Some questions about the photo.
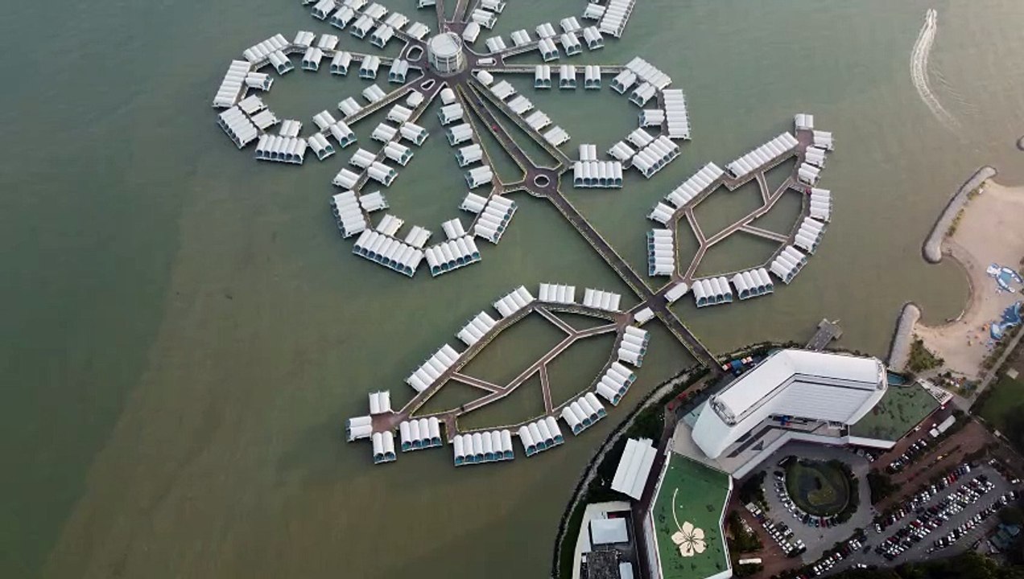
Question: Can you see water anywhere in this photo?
Yes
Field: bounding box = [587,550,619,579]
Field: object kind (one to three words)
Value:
building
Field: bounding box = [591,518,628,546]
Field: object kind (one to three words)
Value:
shed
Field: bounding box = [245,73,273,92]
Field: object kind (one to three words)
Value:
house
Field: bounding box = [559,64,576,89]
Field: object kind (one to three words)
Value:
house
